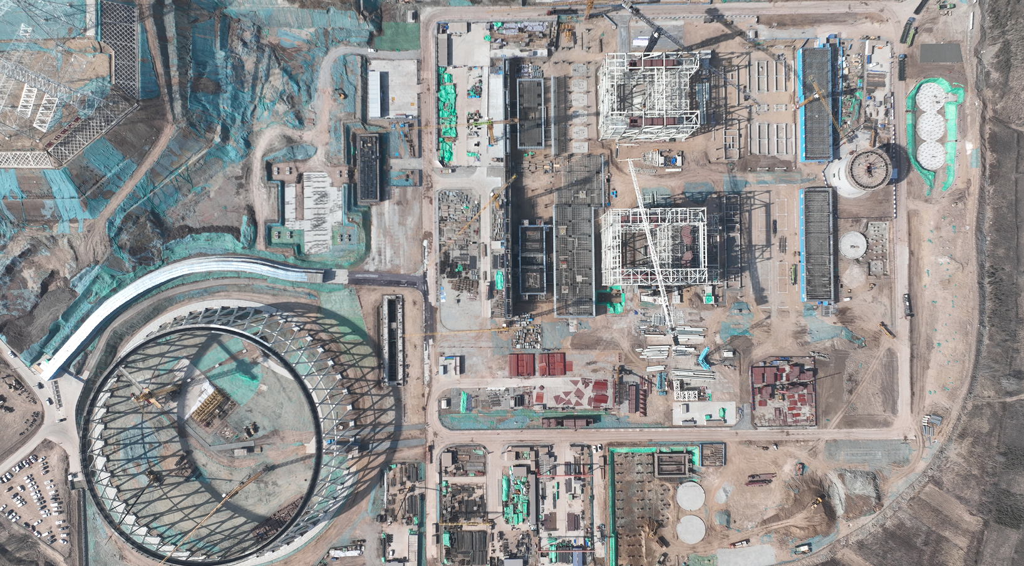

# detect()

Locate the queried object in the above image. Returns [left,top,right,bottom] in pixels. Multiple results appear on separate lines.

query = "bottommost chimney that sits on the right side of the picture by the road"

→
[830,146,893,197]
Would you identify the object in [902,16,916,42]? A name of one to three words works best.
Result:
vehicle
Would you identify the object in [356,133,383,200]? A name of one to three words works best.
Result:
building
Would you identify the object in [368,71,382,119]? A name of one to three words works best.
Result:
building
